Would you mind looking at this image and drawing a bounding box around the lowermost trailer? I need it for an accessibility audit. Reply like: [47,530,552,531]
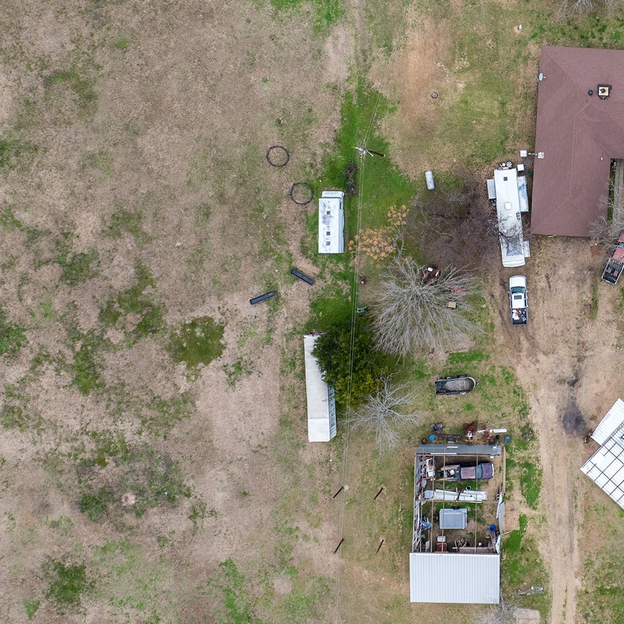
[440,502,468,529]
